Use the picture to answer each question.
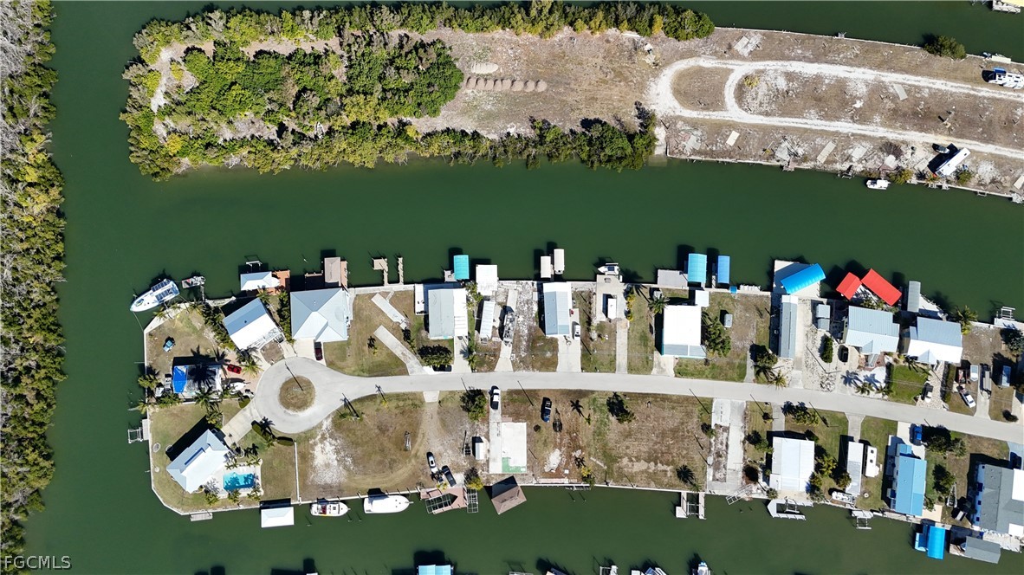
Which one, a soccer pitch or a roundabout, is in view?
roundabout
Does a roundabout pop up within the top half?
No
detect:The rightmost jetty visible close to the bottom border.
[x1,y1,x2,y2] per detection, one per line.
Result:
[982,535,1022,553]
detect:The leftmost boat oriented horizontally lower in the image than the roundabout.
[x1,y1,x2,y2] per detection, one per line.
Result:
[311,502,353,517]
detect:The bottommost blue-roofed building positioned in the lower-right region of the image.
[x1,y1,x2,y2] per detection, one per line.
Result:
[920,525,945,560]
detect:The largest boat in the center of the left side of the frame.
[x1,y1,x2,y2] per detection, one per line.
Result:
[129,281,182,312]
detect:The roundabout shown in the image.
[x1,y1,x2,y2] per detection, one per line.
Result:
[257,356,373,433]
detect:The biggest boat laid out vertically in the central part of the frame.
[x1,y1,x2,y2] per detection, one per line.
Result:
[504,311,516,343]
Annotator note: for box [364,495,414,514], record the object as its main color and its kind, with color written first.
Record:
white boat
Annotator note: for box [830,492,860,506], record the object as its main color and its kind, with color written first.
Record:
white boat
